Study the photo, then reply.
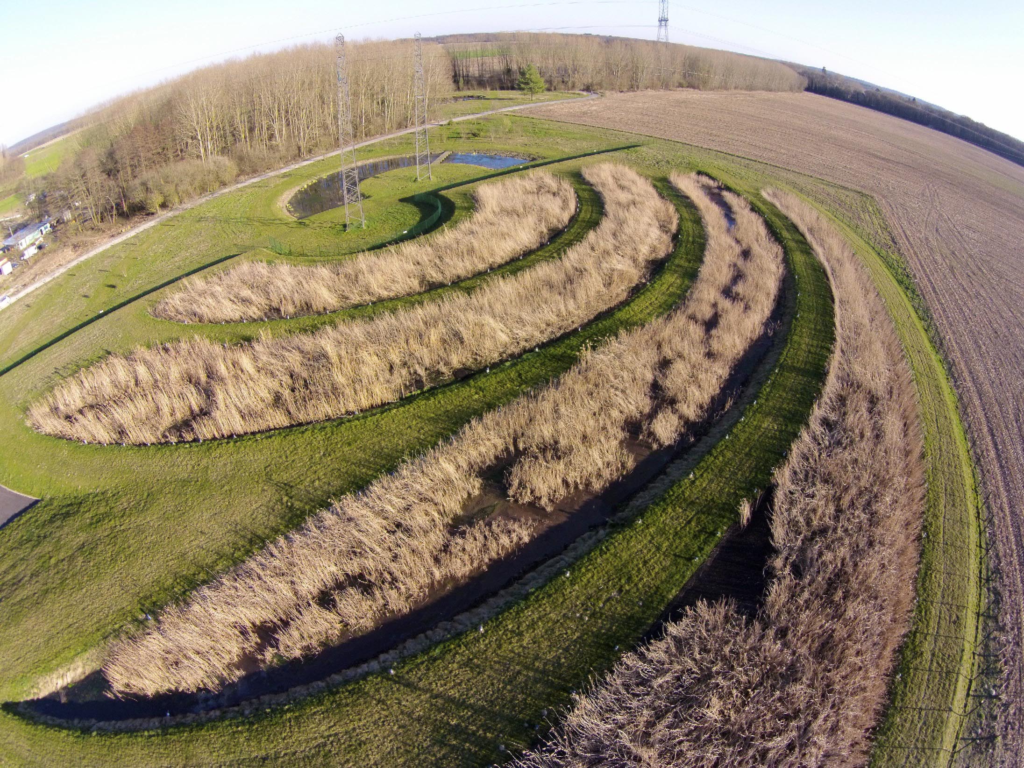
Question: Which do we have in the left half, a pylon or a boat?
pylon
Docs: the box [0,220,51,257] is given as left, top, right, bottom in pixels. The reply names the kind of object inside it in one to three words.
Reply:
shed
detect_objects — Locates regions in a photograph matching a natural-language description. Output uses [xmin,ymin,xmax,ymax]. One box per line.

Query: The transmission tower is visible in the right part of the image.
[650,0,673,84]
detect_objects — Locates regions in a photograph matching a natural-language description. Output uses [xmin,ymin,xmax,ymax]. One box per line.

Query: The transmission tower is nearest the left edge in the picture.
[339,39,368,230]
